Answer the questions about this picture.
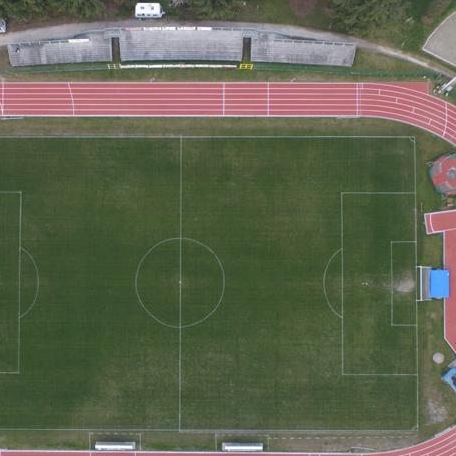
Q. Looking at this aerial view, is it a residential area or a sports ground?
sports ground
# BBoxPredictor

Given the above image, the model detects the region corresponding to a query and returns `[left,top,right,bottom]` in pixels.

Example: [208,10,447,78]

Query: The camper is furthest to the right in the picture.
[136,0,165,17]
